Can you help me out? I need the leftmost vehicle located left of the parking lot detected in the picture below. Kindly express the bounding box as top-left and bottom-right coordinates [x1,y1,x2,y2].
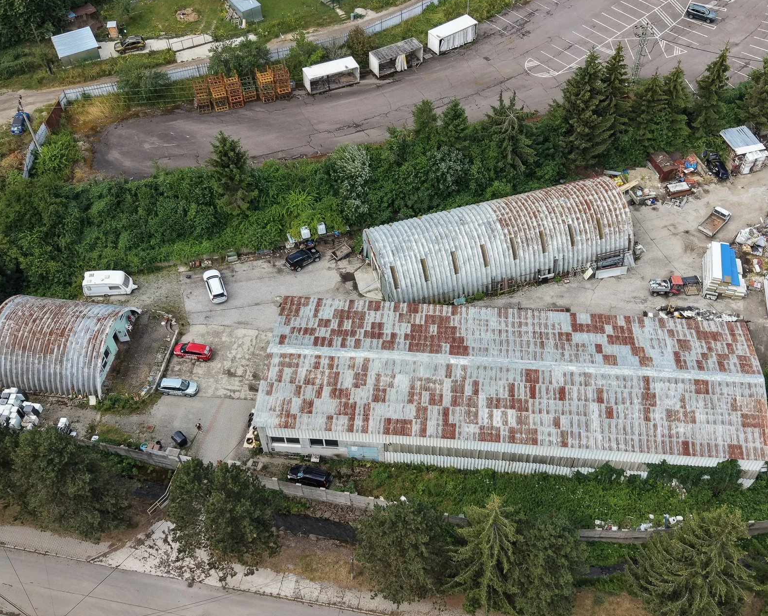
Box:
[5,112,27,133]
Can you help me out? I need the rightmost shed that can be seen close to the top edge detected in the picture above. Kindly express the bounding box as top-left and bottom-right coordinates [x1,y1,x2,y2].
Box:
[228,0,262,23]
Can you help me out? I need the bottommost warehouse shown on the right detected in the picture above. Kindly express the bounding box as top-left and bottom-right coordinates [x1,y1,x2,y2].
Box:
[253,295,768,487]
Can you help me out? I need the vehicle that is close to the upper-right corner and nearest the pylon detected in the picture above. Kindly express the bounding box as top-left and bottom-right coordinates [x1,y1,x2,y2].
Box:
[686,2,717,23]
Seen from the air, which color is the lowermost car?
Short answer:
black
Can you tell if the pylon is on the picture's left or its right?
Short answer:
right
